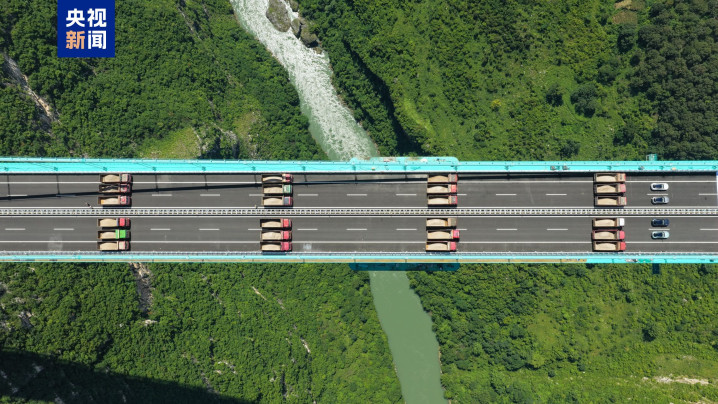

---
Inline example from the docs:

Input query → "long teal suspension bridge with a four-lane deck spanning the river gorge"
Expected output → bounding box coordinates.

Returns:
[0,154,718,271]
